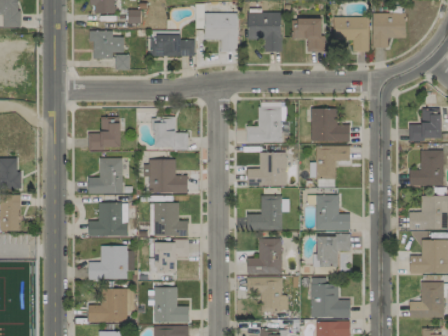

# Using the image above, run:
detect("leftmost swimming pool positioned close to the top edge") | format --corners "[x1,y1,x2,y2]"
[169,6,195,23]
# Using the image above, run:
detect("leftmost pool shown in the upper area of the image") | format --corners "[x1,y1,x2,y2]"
[140,120,156,146]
